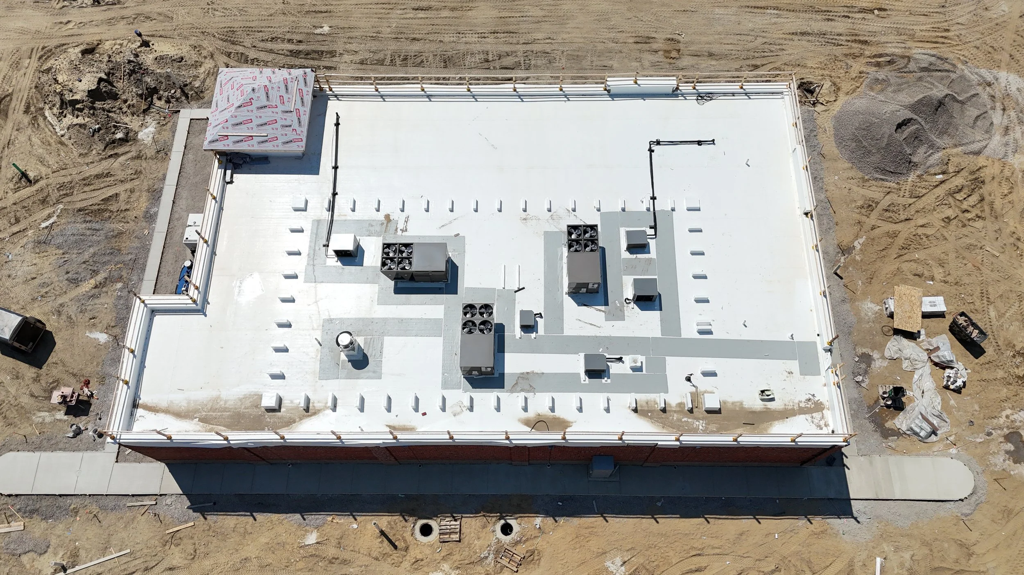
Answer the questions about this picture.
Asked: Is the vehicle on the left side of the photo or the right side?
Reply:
left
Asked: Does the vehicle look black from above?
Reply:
Yes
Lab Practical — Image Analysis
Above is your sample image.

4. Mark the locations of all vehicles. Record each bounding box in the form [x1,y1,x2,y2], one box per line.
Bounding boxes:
[0,304,54,356]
